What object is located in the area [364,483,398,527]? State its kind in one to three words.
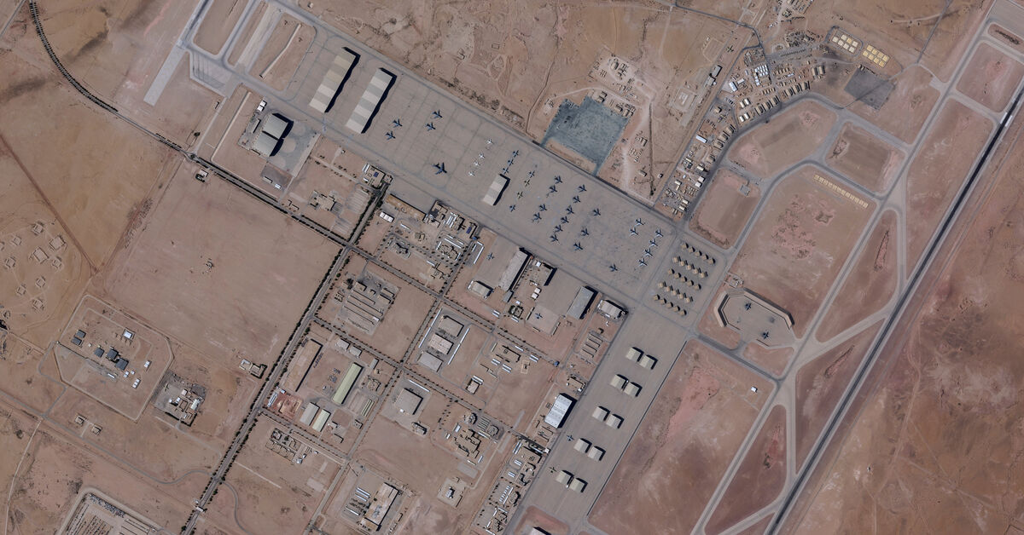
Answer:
building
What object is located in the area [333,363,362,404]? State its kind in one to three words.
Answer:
building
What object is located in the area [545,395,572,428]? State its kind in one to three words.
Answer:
hangar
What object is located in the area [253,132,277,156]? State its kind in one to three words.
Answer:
hangar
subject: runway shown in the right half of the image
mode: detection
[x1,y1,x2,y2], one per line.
[762,77,1024,535]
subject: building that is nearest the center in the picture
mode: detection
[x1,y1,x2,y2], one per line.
[499,250,528,290]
